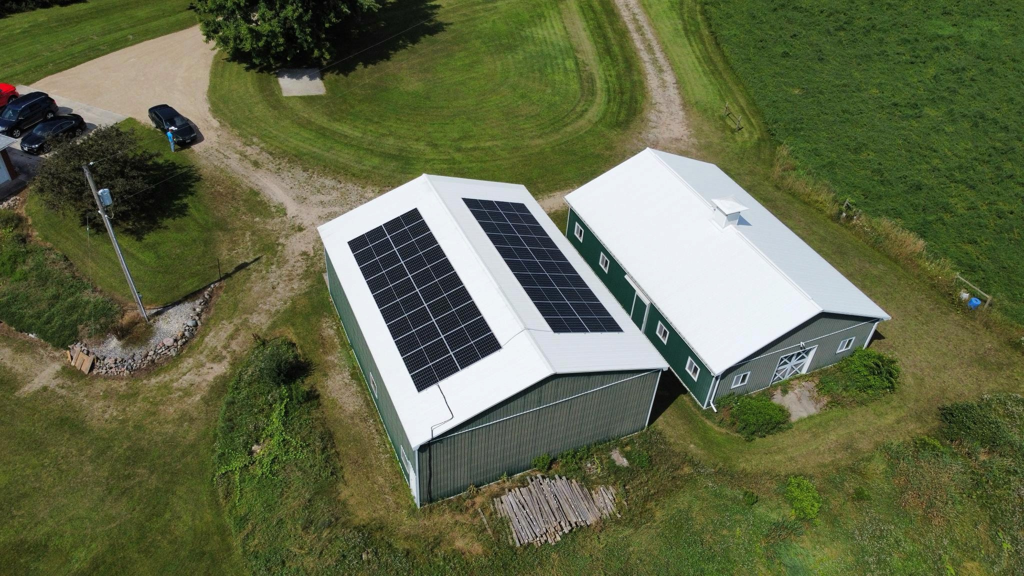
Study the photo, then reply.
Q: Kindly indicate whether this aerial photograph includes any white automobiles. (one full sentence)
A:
No, there is no white automobile in the image.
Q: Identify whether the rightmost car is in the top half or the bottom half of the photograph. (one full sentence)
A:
It is in the top half that the rightmost car appears.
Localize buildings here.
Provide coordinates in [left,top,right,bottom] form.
[563,145,890,414]
[0,133,22,186]
[318,172,668,510]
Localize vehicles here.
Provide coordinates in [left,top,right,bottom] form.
[0,76,19,104]
[0,87,57,137]
[142,105,194,145]
[16,111,89,153]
